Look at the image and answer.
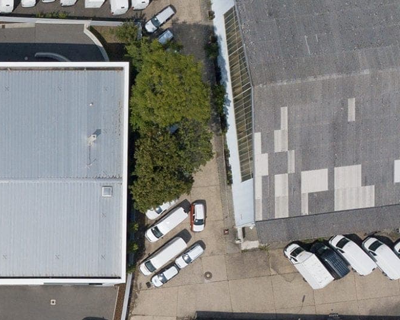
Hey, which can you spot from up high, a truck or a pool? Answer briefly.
truck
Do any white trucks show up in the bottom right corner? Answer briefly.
Yes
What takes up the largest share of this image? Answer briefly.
buildings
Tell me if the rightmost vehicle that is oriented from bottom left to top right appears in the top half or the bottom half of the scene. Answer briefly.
bottom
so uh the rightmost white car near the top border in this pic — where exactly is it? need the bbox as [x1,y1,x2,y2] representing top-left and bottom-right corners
[143,3,177,33]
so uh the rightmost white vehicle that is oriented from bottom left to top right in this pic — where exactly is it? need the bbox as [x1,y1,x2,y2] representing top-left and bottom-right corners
[173,241,208,269]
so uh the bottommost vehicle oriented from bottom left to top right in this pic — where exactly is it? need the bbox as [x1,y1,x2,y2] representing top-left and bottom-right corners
[148,261,182,290]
